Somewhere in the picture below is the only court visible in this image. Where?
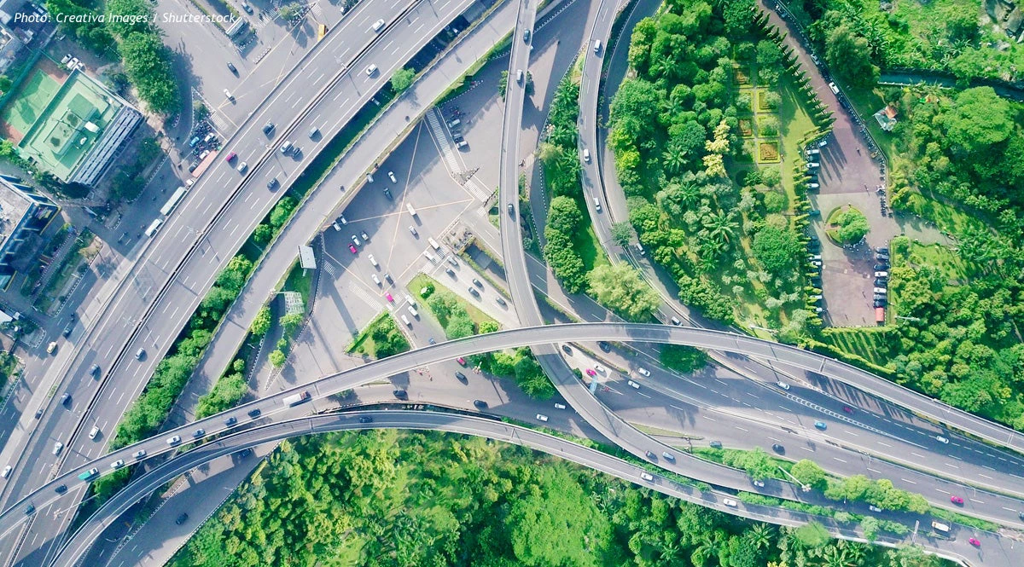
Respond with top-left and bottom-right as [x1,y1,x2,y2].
[0,56,69,143]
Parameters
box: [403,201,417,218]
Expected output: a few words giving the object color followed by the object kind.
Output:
white vehicle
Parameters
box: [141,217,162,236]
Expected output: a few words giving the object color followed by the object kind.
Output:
white vehicle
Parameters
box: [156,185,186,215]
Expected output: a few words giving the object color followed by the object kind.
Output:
white bus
